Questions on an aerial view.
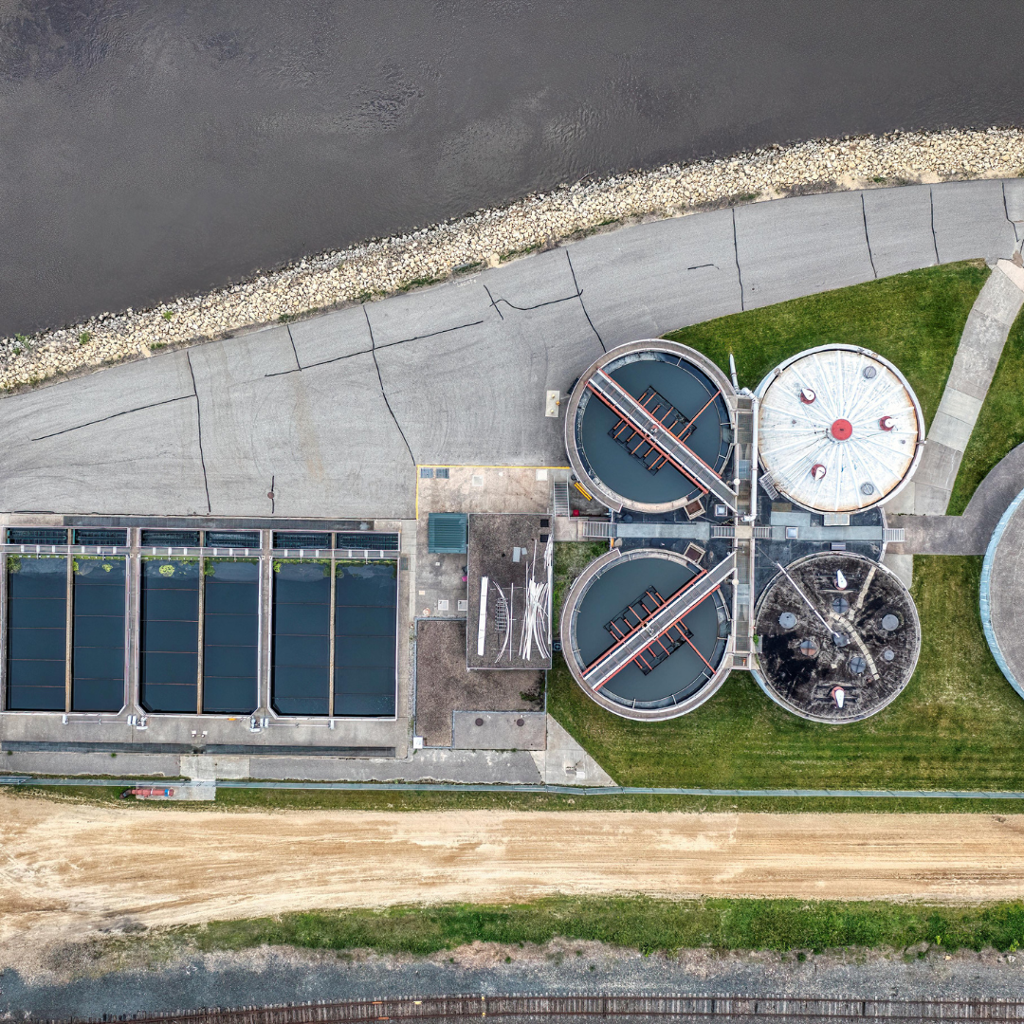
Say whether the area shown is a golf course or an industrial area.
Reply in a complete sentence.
This image shows an industrial area.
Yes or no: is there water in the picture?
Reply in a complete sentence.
Yes, there's water in this view.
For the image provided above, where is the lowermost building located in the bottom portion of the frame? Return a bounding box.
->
[414,619,548,751]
